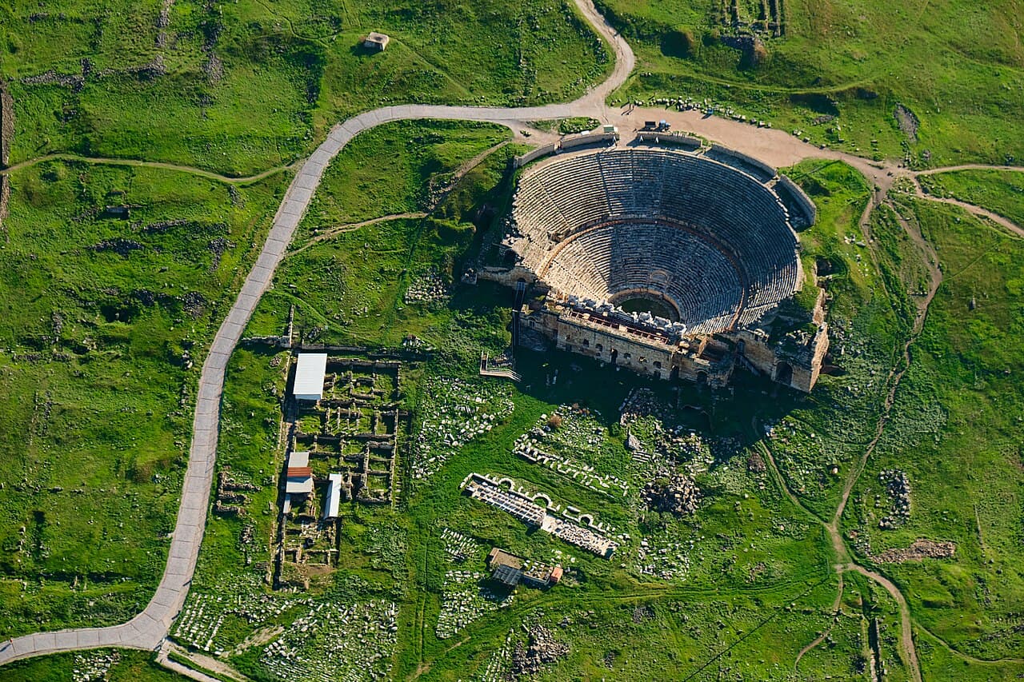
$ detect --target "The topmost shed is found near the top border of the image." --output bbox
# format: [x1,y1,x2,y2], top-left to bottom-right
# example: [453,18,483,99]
[365,32,389,51]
